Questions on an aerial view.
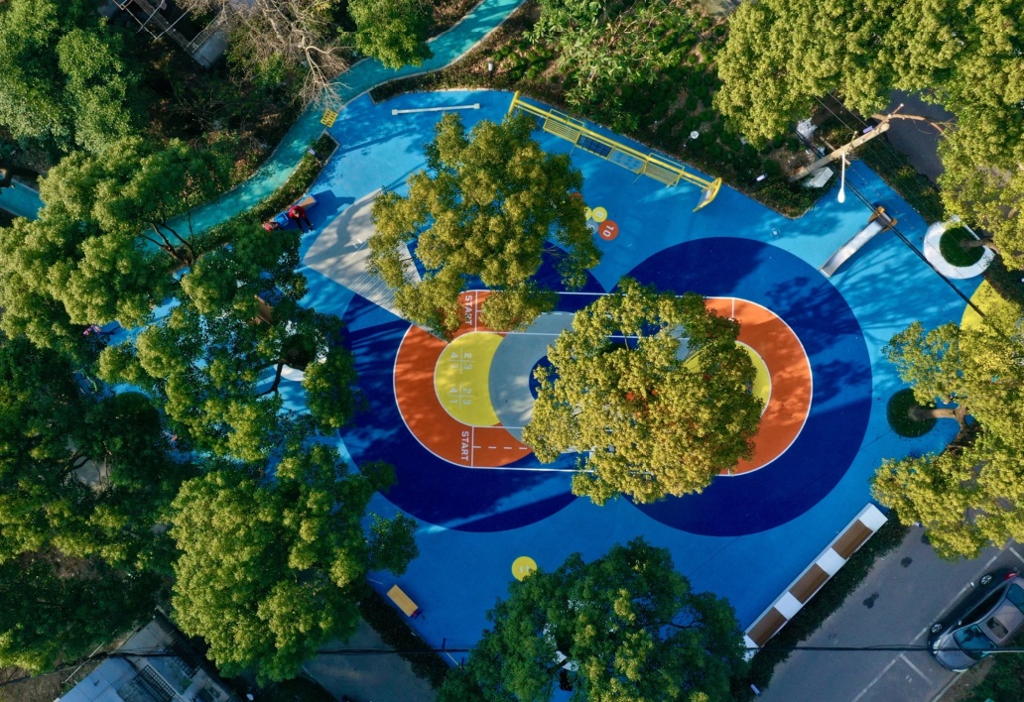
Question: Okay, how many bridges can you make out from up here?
0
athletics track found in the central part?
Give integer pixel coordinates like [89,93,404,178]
[341,233,874,537]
